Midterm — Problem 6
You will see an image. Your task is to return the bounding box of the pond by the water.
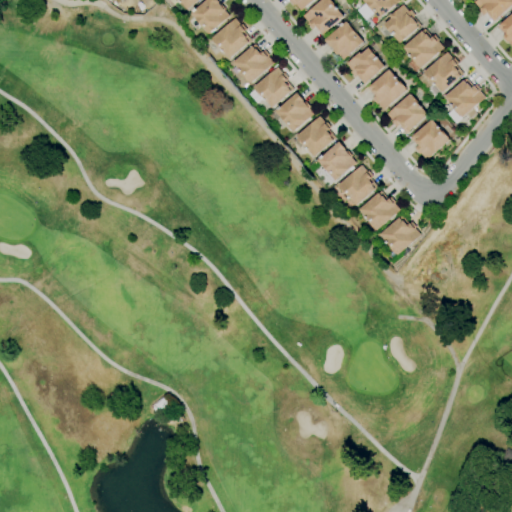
[92,421,180,512]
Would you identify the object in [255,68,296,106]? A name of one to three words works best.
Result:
house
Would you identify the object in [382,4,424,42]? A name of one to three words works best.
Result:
house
